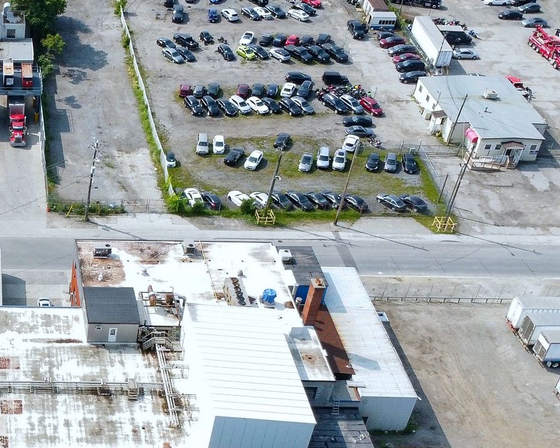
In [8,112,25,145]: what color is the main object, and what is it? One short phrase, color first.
red vehicle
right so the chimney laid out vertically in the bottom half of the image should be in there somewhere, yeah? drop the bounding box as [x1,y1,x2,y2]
[296,277,323,327]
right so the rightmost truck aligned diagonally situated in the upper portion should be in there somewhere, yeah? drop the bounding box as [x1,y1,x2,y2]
[524,23,560,69]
